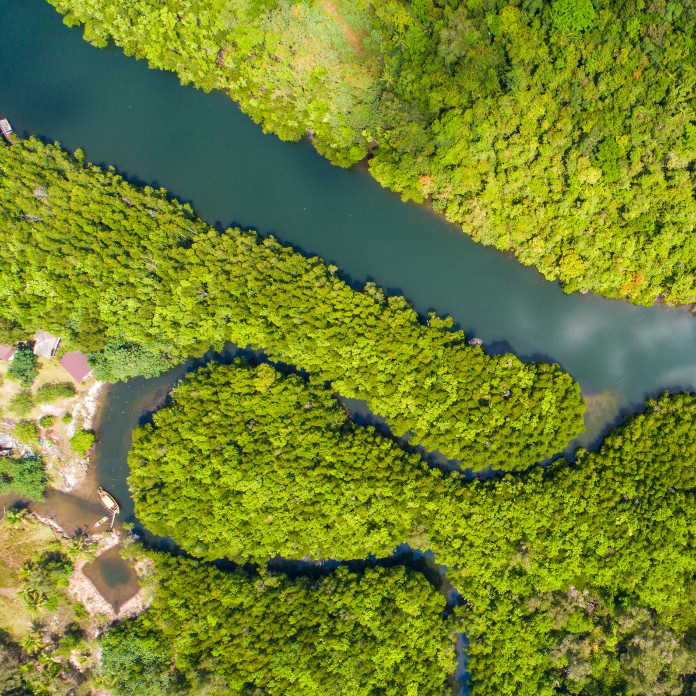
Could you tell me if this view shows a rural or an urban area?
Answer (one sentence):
It looks rural.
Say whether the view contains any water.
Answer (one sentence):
Yes, water shows up in the scene.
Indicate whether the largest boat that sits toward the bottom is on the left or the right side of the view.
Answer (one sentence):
It is on the left.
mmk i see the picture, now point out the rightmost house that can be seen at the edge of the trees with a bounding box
[59,356,90,385]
